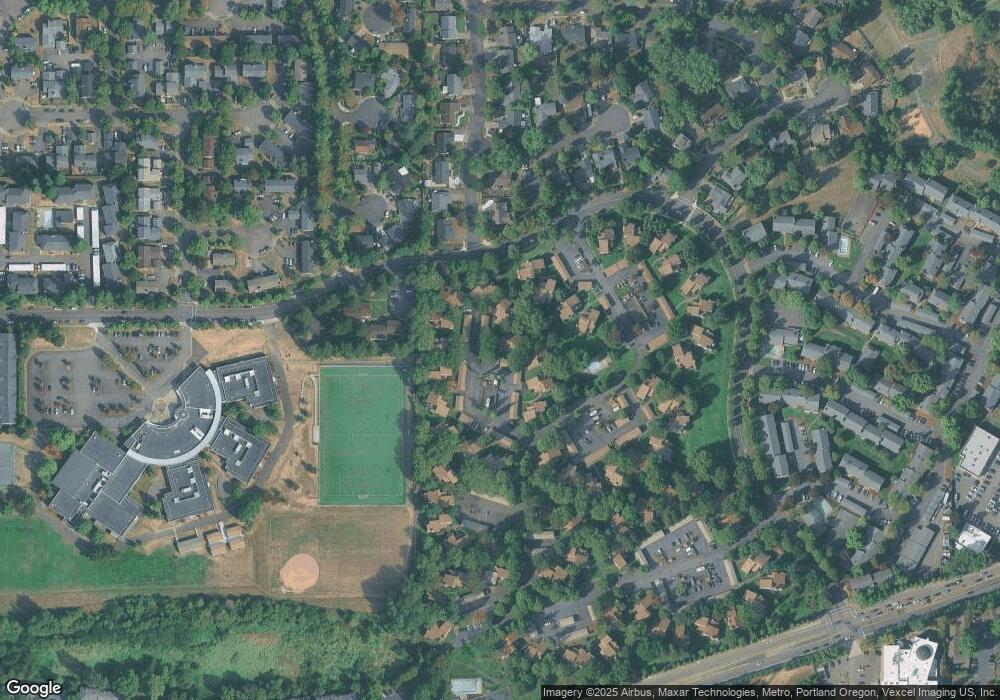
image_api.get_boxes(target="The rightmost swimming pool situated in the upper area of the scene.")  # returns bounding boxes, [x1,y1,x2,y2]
[836,235,850,255]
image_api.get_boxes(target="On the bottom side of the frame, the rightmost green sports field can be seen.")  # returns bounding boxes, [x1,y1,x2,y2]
[317,364,407,506]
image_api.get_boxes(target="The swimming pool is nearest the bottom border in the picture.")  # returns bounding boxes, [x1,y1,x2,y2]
[450,676,481,694]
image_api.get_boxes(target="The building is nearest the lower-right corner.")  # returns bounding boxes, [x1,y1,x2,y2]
[882,638,940,700]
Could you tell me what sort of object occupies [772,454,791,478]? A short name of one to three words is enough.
building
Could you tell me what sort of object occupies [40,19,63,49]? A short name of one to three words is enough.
house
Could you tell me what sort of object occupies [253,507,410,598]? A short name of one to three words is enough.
baseball field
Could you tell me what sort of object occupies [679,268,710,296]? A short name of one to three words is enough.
house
